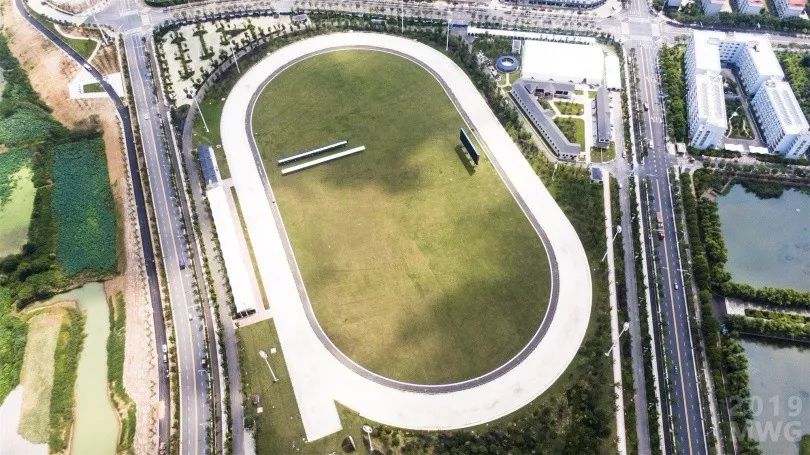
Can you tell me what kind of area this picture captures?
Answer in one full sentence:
The area seen from above is a sports ground.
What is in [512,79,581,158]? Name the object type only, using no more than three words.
building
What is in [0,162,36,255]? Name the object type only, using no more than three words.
pond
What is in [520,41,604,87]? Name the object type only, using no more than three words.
building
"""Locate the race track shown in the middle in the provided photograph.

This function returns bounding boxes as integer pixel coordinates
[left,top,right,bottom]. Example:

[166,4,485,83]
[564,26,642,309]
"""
[211,28,603,442]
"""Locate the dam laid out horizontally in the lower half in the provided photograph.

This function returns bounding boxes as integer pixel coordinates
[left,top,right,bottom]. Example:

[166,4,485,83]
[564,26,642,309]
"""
[713,295,810,333]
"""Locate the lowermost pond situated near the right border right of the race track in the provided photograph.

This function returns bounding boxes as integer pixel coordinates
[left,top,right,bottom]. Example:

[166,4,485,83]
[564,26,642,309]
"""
[731,328,810,455]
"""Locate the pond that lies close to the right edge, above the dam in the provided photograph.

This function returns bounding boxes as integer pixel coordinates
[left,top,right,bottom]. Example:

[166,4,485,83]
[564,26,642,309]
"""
[717,184,810,293]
